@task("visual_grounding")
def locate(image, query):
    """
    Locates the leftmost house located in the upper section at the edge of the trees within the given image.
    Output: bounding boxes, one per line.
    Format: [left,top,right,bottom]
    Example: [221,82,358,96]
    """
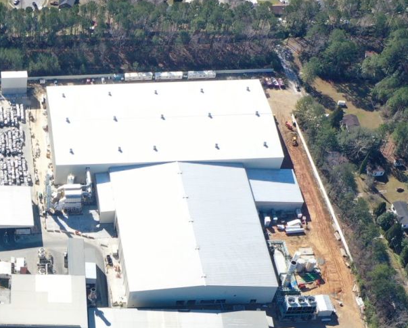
[0,70,27,95]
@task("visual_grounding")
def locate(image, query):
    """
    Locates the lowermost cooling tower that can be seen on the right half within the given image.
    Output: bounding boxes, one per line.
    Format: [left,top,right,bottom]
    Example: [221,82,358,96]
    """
[277,294,317,316]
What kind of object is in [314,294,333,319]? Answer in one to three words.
building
